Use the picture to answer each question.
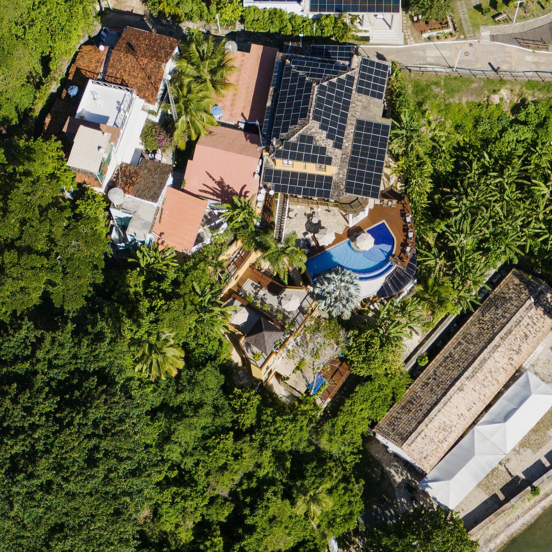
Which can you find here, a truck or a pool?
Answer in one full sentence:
The one in the frame is a pool.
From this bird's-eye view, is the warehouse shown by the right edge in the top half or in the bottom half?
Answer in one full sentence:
The warehouse shown by the right edge sits in the bottom half of the picture.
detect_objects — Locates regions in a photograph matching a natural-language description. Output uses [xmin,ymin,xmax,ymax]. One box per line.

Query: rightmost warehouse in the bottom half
[374,268,552,475]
